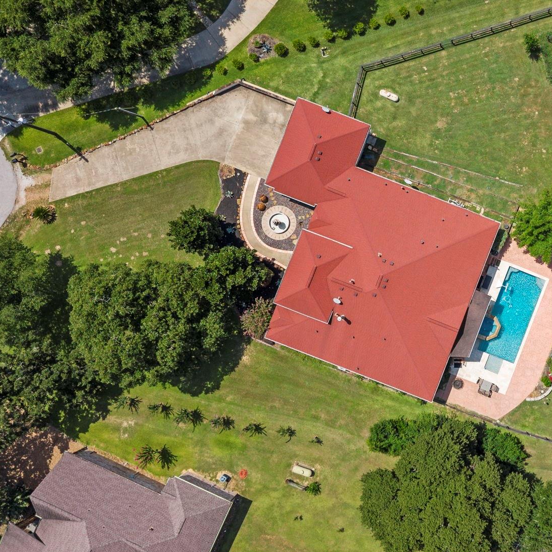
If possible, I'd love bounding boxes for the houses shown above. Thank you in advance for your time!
[0,450,236,552]
[264,97,501,403]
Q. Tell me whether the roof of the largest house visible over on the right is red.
Yes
